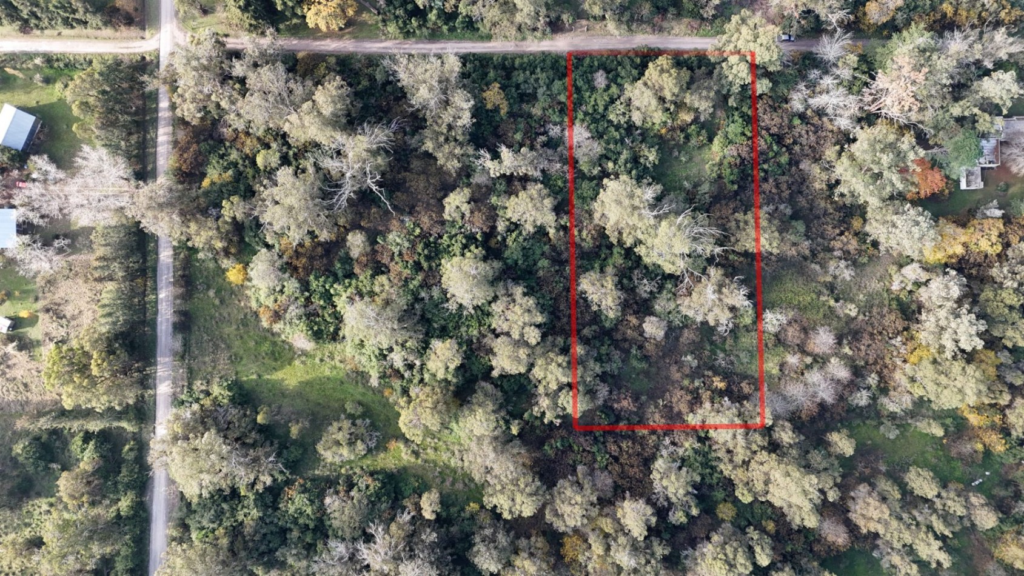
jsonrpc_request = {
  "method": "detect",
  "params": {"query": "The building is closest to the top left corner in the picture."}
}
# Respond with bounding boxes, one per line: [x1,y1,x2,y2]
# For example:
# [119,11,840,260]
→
[0,104,45,154]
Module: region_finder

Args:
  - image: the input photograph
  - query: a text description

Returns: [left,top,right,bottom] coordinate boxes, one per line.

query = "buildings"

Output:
[955,116,1024,190]
[0,208,22,248]
[0,104,45,154]
[0,316,18,335]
